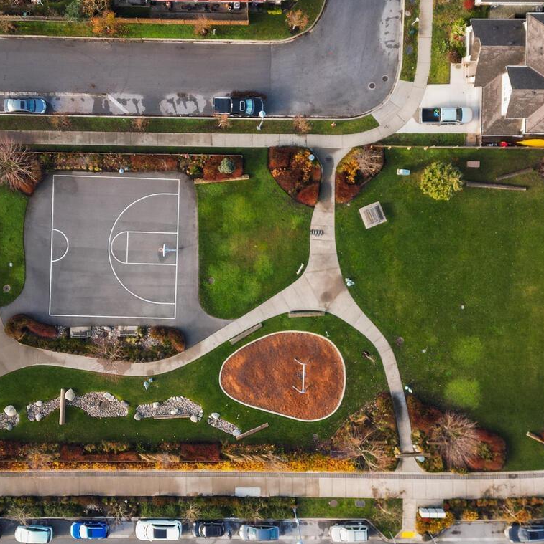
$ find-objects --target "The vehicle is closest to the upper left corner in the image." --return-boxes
[2,94,45,115]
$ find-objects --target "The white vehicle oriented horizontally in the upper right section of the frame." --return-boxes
[422,102,475,124]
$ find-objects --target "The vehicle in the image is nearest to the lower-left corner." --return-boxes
[14,525,52,544]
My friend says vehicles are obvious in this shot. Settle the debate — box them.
[2,94,45,115]
[195,521,226,543]
[213,93,264,116]
[330,524,370,544]
[14,525,52,544]
[422,102,475,124]
[136,520,181,544]
[507,523,544,544]
[69,522,108,544]
[240,524,280,544]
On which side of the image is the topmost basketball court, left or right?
left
